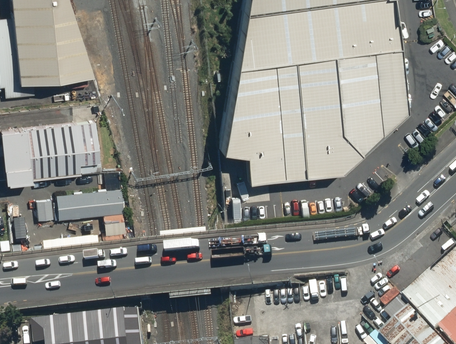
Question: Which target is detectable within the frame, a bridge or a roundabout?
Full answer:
This aerial view contains a bridge.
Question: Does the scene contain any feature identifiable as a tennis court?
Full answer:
No, the scene contains no tennis court.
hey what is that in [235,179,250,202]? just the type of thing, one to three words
vehicle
